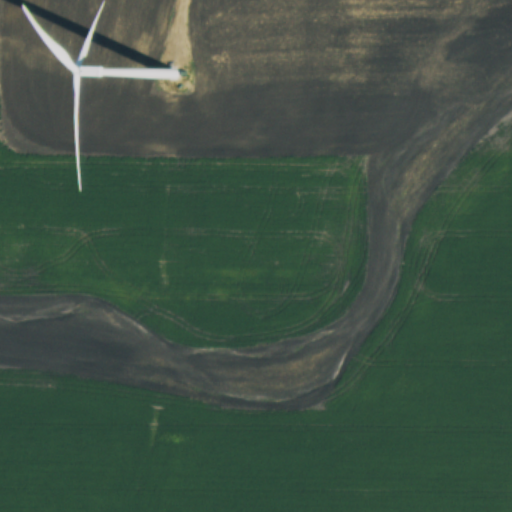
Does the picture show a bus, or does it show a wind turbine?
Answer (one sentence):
Visible in the photo is a wind turbine.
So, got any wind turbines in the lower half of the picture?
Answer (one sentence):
No, no wind turbine can be made out in the lower half of the picture.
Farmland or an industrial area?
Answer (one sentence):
The area seen from above is farmland.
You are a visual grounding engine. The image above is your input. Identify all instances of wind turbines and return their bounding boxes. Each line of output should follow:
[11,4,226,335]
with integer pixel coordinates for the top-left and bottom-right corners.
[22,0,181,192]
